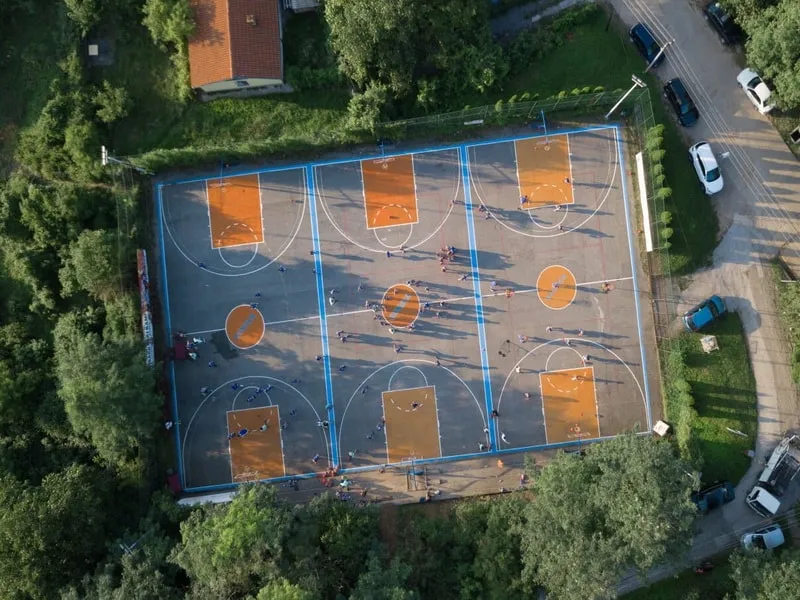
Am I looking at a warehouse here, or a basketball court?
basketball court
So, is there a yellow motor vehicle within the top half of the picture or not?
No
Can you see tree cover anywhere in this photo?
Yes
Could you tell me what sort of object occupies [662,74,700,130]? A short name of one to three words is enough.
car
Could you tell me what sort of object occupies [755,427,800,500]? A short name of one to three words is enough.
trailer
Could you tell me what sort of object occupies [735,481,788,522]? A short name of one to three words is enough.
car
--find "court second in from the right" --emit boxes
[310,145,496,473]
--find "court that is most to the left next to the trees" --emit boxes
[155,164,339,491]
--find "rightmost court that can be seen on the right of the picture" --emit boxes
[465,126,653,452]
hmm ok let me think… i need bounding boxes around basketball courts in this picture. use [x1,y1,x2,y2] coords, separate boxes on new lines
[155,164,339,491]
[465,126,653,452]
[310,145,496,473]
